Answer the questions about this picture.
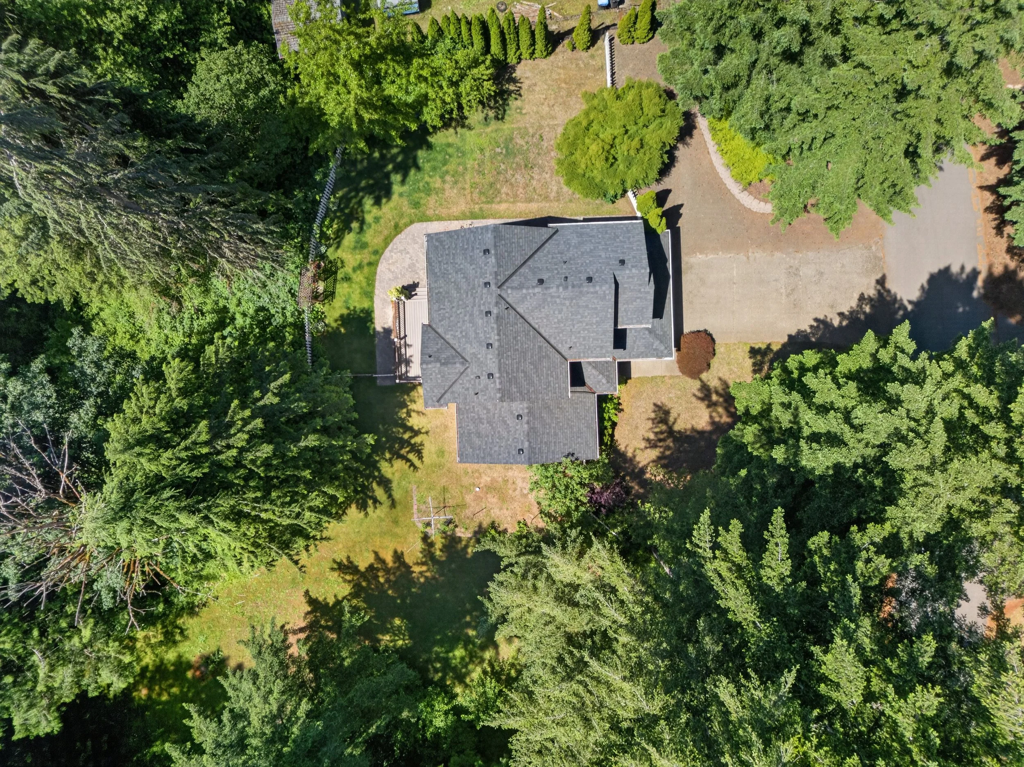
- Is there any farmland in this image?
No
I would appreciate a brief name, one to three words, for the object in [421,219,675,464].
house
